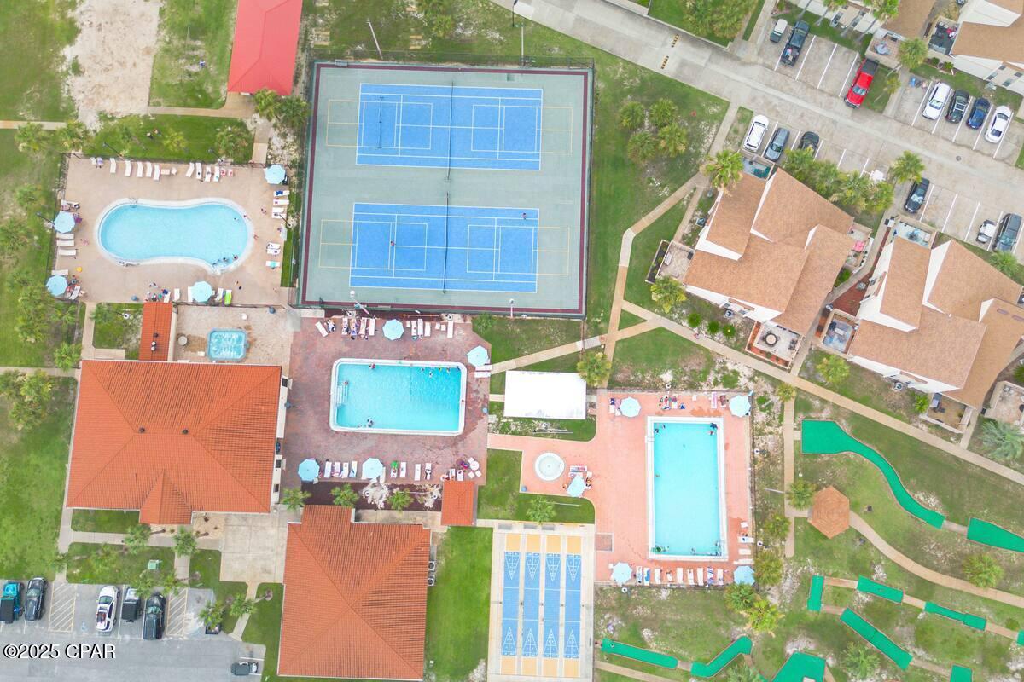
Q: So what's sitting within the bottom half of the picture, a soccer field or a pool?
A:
pool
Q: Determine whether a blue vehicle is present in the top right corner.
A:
Yes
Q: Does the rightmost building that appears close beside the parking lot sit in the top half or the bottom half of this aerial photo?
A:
bottom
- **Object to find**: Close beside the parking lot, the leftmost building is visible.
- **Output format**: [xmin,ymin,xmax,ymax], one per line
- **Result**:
[65,358,288,525]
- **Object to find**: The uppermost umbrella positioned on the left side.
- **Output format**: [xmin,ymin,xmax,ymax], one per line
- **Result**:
[266,163,287,183]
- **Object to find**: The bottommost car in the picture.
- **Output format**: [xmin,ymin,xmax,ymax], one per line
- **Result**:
[228,659,260,679]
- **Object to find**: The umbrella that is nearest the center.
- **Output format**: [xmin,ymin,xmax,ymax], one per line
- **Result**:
[467,344,488,366]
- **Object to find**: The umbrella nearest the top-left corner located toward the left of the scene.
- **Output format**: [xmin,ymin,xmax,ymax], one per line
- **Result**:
[55,213,78,233]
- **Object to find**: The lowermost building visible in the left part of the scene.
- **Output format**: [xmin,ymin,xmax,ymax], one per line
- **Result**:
[277,504,433,682]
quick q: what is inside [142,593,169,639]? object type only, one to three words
car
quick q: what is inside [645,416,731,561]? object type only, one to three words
swimming pool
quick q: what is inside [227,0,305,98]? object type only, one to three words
building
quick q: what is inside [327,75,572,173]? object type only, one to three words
tennis court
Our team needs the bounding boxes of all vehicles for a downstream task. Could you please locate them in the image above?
[920,80,953,121]
[902,175,932,214]
[768,16,787,43]
[963,97,990,132]
[119,590,142,624]
[794,127,822,153]
[973,219,999,245]
[991,210,1024,254]
[21,577,50,621]
[983,104,1012,145]
[843,56,881,110]
[94,585,122,633]
[742,114,769,153]
[142,593,169,639]
[942,89,970,126]
[777,20,811,69]
[0,582,25,623]
[228,659,260,679]
[763,125,791,161]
